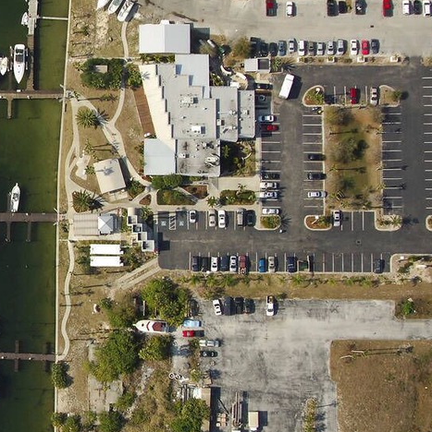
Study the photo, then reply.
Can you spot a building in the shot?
Yes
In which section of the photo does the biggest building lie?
top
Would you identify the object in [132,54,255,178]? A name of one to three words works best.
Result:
building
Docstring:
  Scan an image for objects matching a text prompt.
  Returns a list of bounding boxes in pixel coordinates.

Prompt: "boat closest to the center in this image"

[133,320,170,334]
